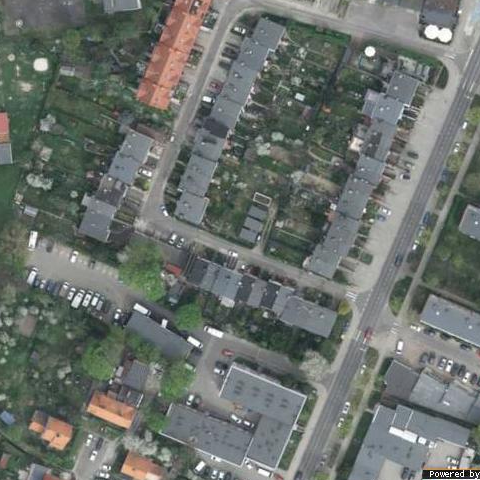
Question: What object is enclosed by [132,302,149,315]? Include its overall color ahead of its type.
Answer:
white vehicle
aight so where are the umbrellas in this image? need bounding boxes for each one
[437,28,452,43]
[425,26,439,40]
[365,47,376,58]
